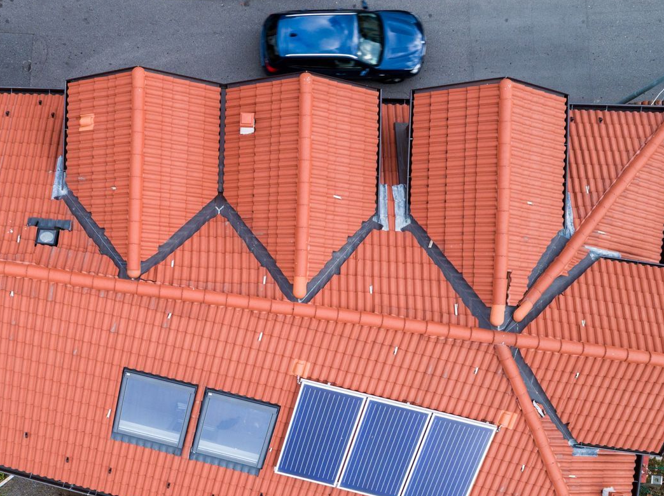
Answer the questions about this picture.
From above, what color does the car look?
blue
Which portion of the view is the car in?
top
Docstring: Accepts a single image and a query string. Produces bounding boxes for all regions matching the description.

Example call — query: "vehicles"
[261,1,422,87]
